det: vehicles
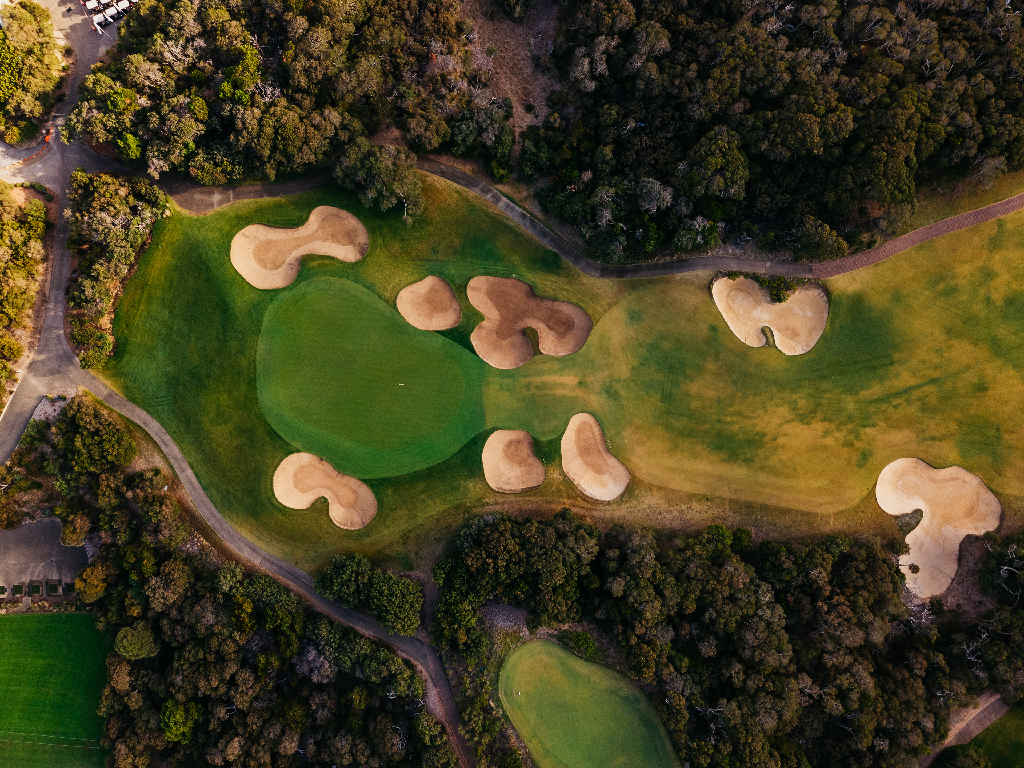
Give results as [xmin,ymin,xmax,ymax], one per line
[106,7,124,22]
[93,14,112,29]
[118,0,135,15]
[131,0,142,6]
[100,0,118,10]
[86,0,104,15]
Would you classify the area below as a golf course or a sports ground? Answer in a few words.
golf course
